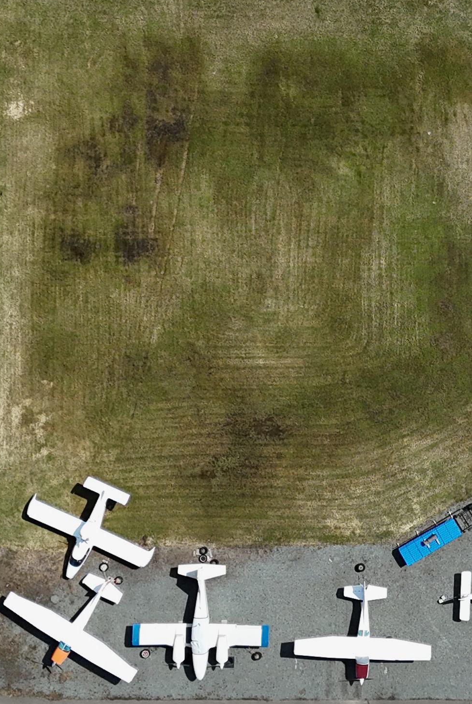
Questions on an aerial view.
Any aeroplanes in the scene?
Yes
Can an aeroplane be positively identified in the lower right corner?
Yes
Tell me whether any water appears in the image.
No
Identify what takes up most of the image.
grass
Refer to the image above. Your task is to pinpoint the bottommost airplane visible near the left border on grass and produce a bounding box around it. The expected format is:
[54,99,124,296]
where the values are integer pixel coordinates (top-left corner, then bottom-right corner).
[5,572,136,684]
